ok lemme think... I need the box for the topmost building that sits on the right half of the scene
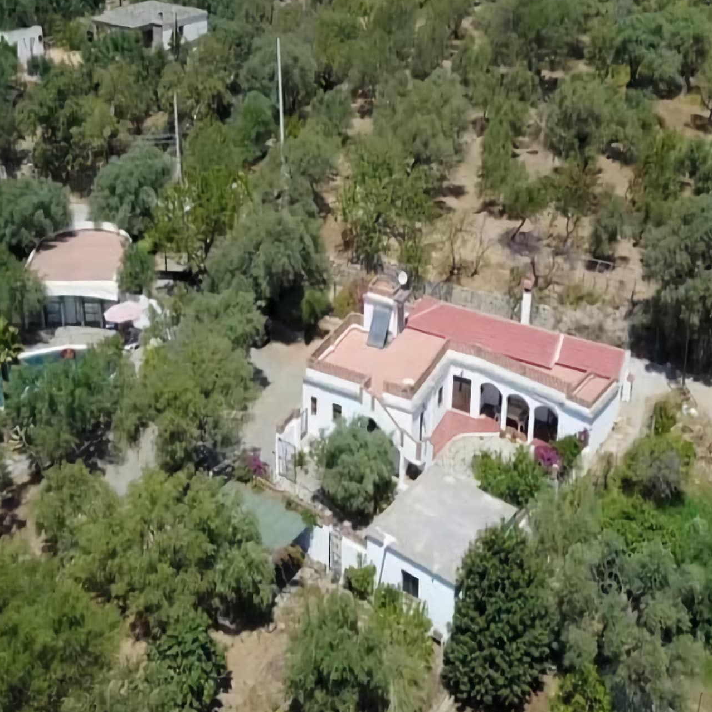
[301,279,633,492]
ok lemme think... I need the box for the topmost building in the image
[91,1,206,53]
